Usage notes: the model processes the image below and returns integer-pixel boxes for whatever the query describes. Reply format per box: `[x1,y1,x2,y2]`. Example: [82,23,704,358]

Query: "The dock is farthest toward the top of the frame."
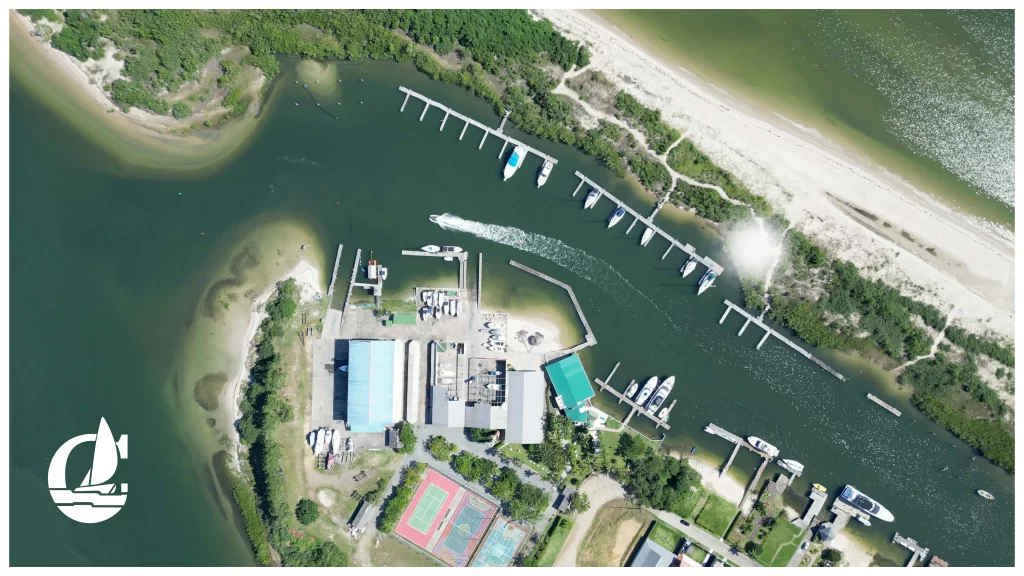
[399,86,558,169]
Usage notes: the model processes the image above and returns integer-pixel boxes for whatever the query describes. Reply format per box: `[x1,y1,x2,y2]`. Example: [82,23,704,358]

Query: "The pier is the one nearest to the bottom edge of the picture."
[891,532,929,573]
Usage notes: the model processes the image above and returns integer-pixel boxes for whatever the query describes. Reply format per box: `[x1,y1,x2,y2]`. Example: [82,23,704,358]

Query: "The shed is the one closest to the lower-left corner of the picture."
[349,501,374,531]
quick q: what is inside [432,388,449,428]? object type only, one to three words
building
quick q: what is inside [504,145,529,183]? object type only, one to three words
boat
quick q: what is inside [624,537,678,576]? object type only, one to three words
house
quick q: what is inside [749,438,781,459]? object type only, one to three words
boat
